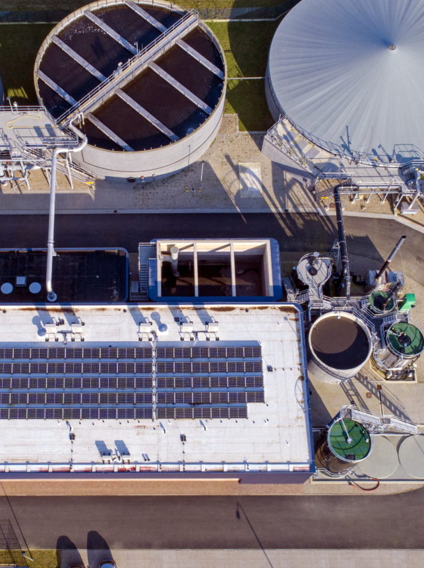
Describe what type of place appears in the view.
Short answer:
industrial area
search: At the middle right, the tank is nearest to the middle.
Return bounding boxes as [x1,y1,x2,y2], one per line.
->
[294,246,334,300]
